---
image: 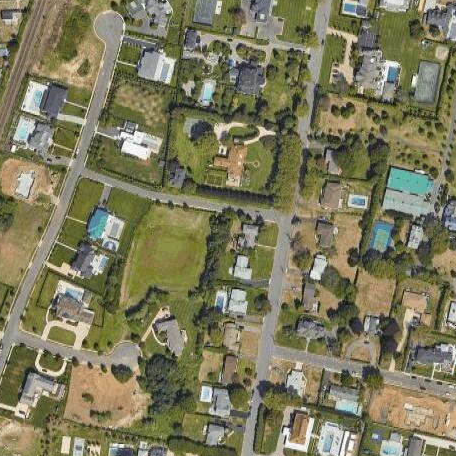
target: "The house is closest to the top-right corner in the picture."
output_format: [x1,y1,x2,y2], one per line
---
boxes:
[431,1,456,31]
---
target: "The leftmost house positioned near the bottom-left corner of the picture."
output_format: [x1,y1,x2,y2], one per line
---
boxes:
[20,372,65,408]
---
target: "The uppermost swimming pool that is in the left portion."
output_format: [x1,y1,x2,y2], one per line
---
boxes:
[159,57,177,84]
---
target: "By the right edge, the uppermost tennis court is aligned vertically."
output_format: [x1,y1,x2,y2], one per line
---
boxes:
[415,61,439,103]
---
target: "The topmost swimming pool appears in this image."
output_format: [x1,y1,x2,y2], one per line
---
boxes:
[343,1,356,16]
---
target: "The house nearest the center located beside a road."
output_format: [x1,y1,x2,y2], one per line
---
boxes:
[237,222,260,248]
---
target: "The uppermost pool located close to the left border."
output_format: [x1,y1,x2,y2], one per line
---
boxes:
[21,84,45,115]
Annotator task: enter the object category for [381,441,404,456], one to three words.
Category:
swimming pool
